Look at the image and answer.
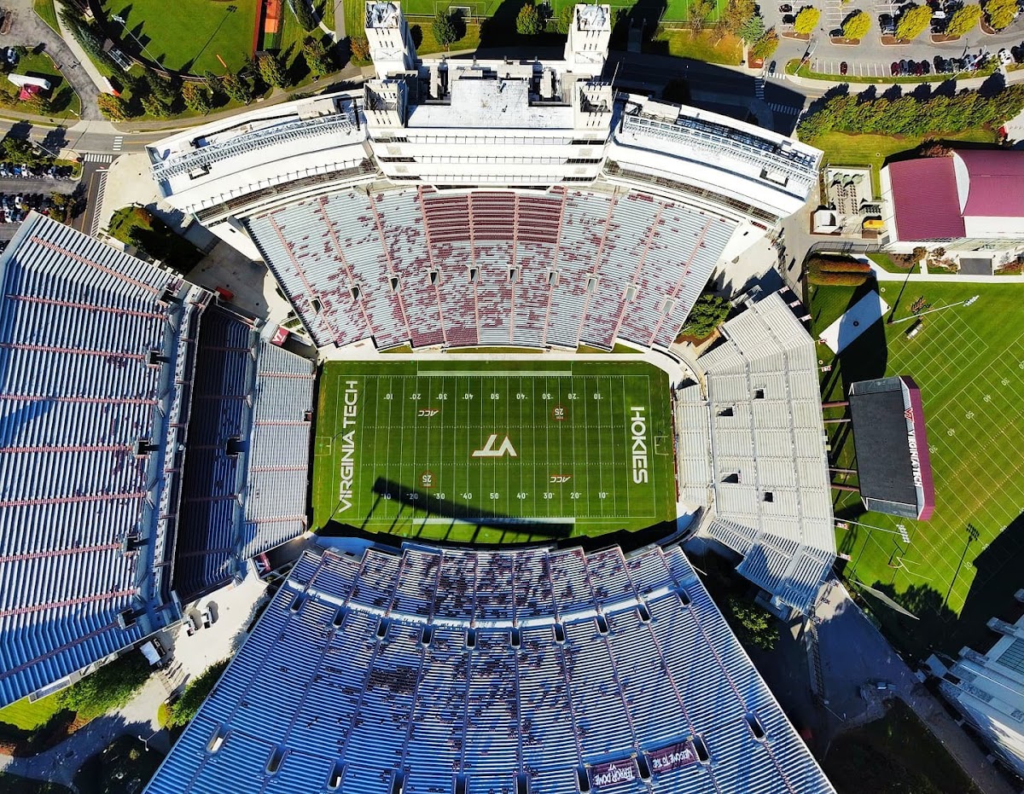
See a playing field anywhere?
Yes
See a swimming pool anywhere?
No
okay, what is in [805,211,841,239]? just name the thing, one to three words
shed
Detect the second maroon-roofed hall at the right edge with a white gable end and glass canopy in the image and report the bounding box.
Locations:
[941,150,1024,265]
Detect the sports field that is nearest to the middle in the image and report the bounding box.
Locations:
[312,359,677,555]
